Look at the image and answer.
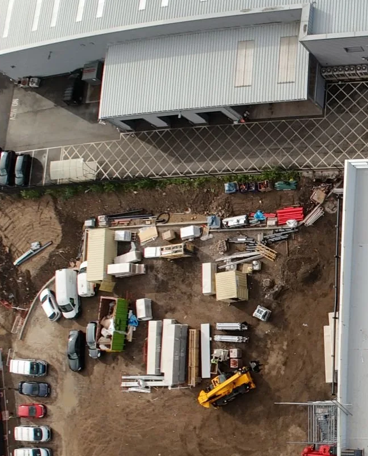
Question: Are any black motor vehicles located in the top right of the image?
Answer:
No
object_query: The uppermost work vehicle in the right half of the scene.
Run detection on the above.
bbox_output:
[195,359,269,407]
